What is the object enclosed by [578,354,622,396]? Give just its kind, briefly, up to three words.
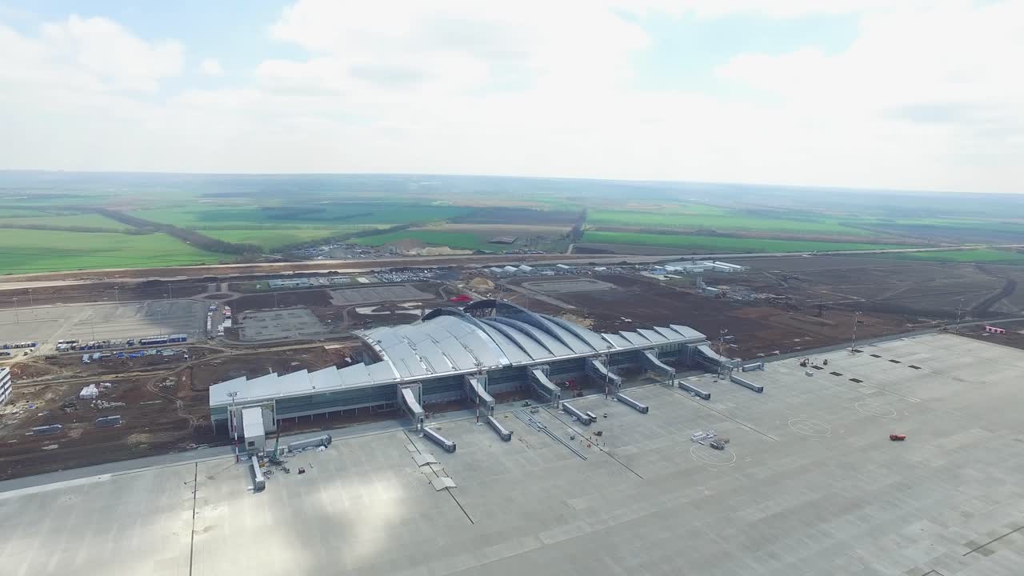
jet bridge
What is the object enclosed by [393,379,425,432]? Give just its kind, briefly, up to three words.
jet bridge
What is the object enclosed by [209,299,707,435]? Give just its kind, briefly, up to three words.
building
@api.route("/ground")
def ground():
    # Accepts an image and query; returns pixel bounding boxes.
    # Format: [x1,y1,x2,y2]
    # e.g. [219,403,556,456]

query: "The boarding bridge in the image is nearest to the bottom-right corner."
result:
[675,339,743,377]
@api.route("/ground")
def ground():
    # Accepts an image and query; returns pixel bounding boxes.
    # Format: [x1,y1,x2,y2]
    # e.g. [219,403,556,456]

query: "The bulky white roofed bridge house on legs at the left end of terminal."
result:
[227,399,277,456]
